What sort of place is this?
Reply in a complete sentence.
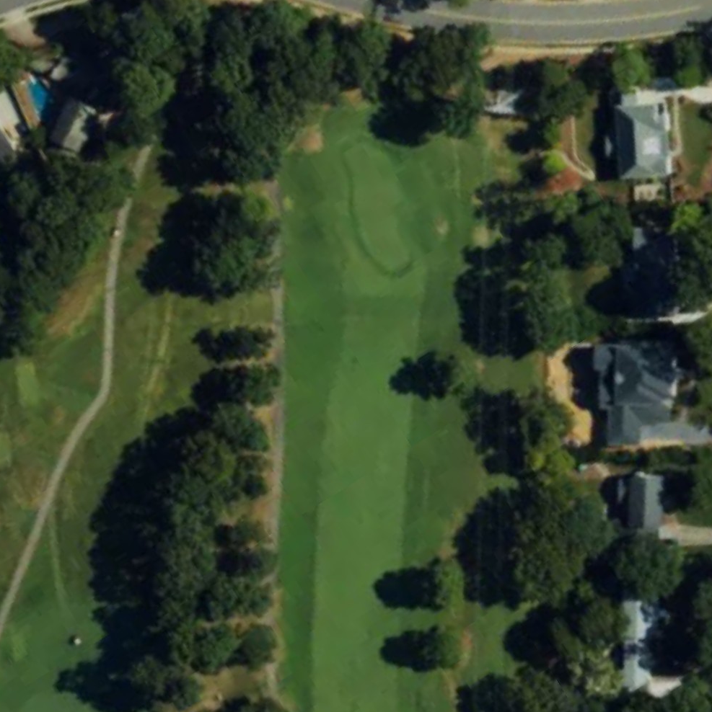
It's a golf course.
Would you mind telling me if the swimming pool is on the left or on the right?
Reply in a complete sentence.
It is on the left.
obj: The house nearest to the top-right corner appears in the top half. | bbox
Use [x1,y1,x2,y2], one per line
[615,104,674,180]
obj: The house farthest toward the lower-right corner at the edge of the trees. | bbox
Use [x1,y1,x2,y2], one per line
[620,599,657,693]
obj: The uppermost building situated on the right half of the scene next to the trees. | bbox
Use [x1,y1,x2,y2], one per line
[481,88,524,116]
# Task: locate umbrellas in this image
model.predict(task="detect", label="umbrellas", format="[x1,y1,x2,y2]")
[52,63,66,78]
